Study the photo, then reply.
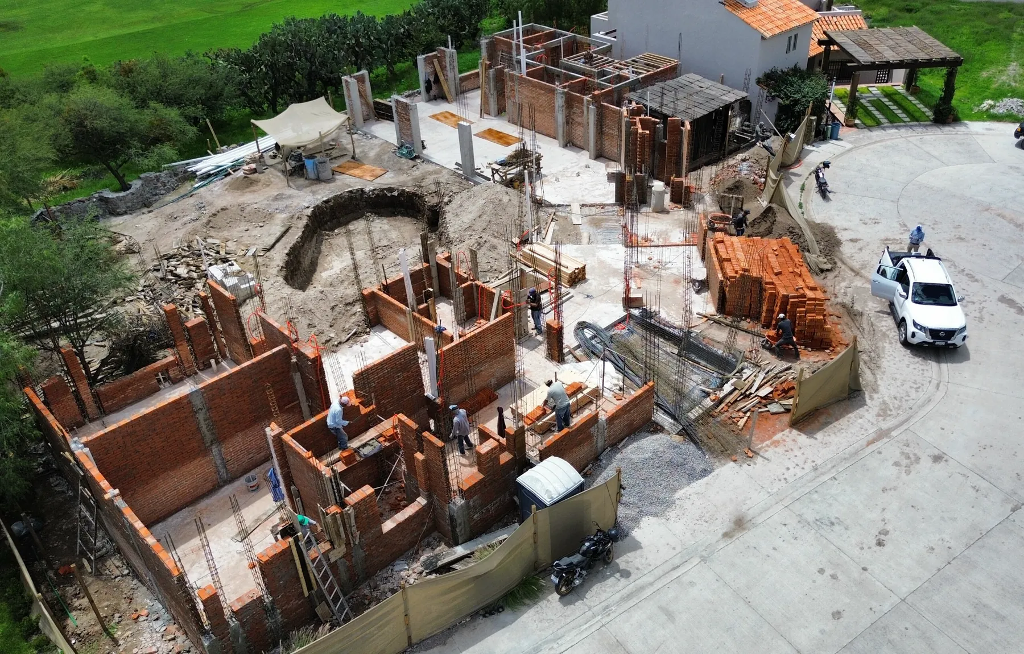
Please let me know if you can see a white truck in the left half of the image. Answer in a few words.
No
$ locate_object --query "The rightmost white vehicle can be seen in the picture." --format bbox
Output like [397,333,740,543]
[864,247,976,352]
